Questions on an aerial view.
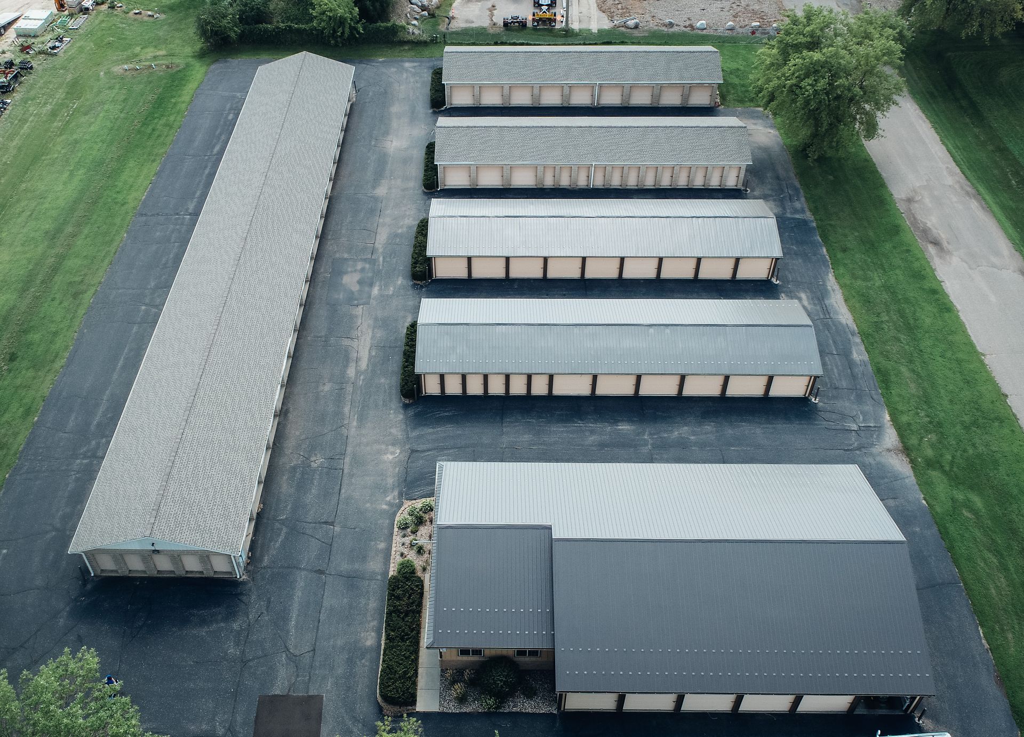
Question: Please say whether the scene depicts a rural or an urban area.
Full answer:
It looks urban.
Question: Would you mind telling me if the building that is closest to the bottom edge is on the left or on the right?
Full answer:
The building that is closest to the bottom edge is on the right side of the image.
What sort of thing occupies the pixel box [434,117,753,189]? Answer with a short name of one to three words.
shed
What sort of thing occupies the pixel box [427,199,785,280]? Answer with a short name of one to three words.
shed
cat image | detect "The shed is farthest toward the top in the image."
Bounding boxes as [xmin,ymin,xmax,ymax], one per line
[441,46,725,107]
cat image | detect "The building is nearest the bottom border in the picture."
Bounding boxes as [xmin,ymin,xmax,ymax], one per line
[412,463,933,715]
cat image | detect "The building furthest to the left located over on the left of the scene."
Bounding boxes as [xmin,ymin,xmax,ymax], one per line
[69,51,355,580]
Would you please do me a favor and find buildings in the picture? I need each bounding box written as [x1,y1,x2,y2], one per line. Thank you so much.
[434,117,753,189]
[427,199,785,280]
[412,463,933,715]
[415,299,824,397]
[441,46,725,107]
[69,51,355,580]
